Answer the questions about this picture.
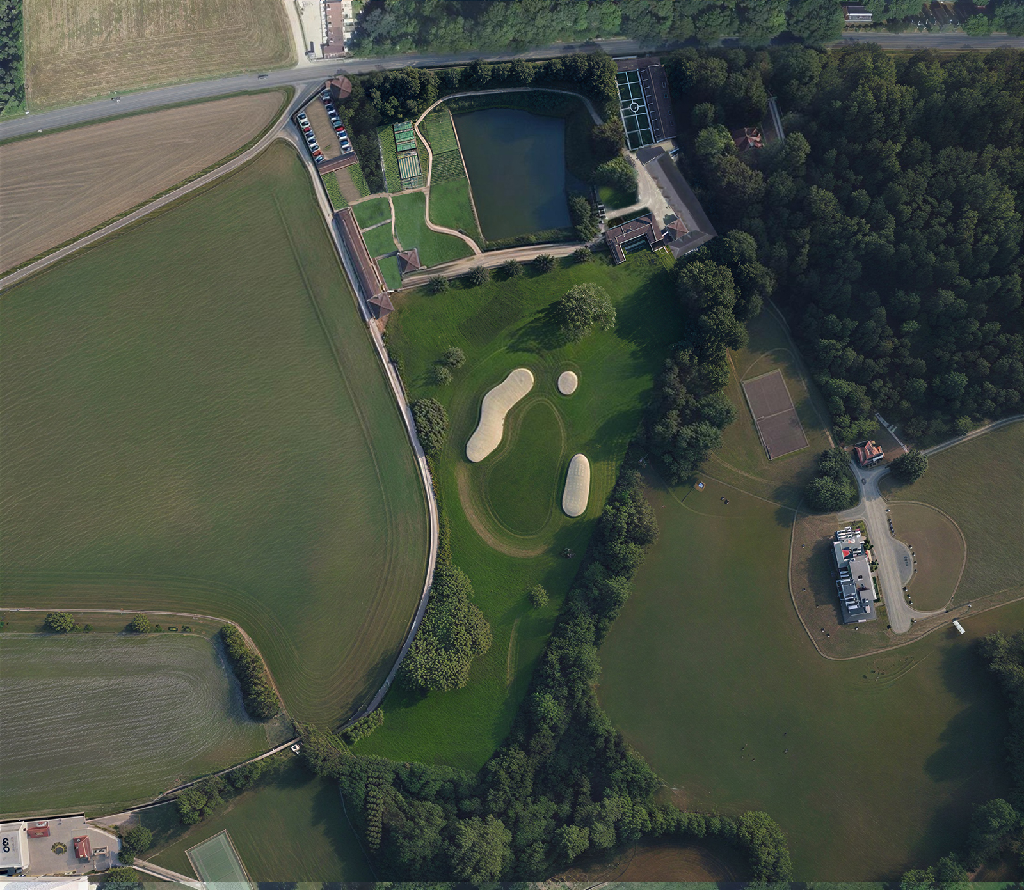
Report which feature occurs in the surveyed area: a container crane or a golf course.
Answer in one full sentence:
It is a golf course that can be seen here.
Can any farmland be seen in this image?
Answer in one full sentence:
Yes, the picture does contain farmland.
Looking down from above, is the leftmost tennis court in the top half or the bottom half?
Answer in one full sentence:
Seen from above, the leftmost tennis court lies in the bottom half of the view.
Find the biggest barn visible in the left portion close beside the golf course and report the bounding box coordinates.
[334,207,381,301]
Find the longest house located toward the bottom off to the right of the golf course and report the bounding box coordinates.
[831,536,878,624]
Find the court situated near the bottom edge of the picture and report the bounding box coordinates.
[186,830,256,890]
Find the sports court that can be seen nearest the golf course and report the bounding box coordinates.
[741,369,809,459]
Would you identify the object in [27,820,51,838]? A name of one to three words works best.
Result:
building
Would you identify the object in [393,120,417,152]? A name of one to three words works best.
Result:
greenhouse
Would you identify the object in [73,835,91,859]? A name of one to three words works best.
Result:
house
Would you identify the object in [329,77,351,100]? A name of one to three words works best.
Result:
building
